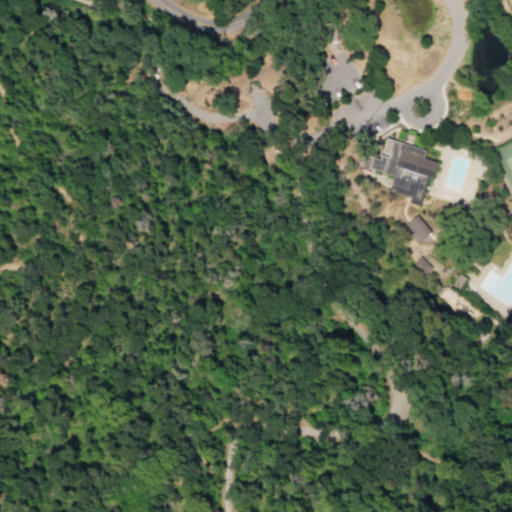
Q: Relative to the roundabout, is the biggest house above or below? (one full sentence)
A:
The biggest house appears below the roundabout in the picture.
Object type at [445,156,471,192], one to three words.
swimming pool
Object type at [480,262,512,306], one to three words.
swimming pool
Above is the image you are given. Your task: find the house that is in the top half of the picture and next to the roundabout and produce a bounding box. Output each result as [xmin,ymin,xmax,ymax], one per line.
[371,138,440,204]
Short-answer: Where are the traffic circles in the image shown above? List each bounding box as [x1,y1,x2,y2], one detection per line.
[402,84,446,129]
